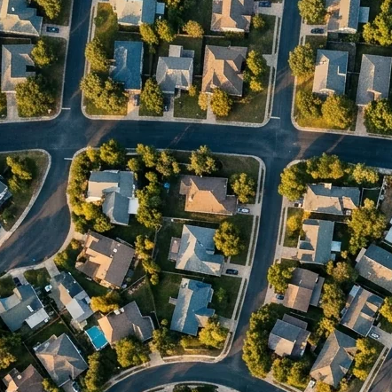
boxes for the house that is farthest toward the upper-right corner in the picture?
[324,0,369,36]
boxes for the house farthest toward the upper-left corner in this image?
[0,0,45,38]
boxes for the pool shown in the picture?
[85,324,111,353]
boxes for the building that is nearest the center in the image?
[176,174,237,217]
